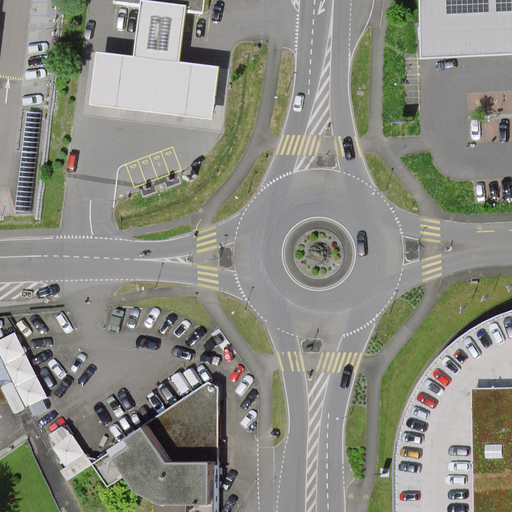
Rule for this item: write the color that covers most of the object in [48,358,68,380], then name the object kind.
white car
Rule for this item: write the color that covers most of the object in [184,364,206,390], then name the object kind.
white vehicle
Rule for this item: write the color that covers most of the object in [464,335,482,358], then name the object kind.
white car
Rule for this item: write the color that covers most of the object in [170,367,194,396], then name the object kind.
white vehicle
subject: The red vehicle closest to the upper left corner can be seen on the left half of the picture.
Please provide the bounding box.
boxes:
[66,151,80,172]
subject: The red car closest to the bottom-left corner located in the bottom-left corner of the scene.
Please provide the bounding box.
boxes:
[47,415,68,432]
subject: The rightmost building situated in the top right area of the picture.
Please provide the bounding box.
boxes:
[420,0,512,58]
